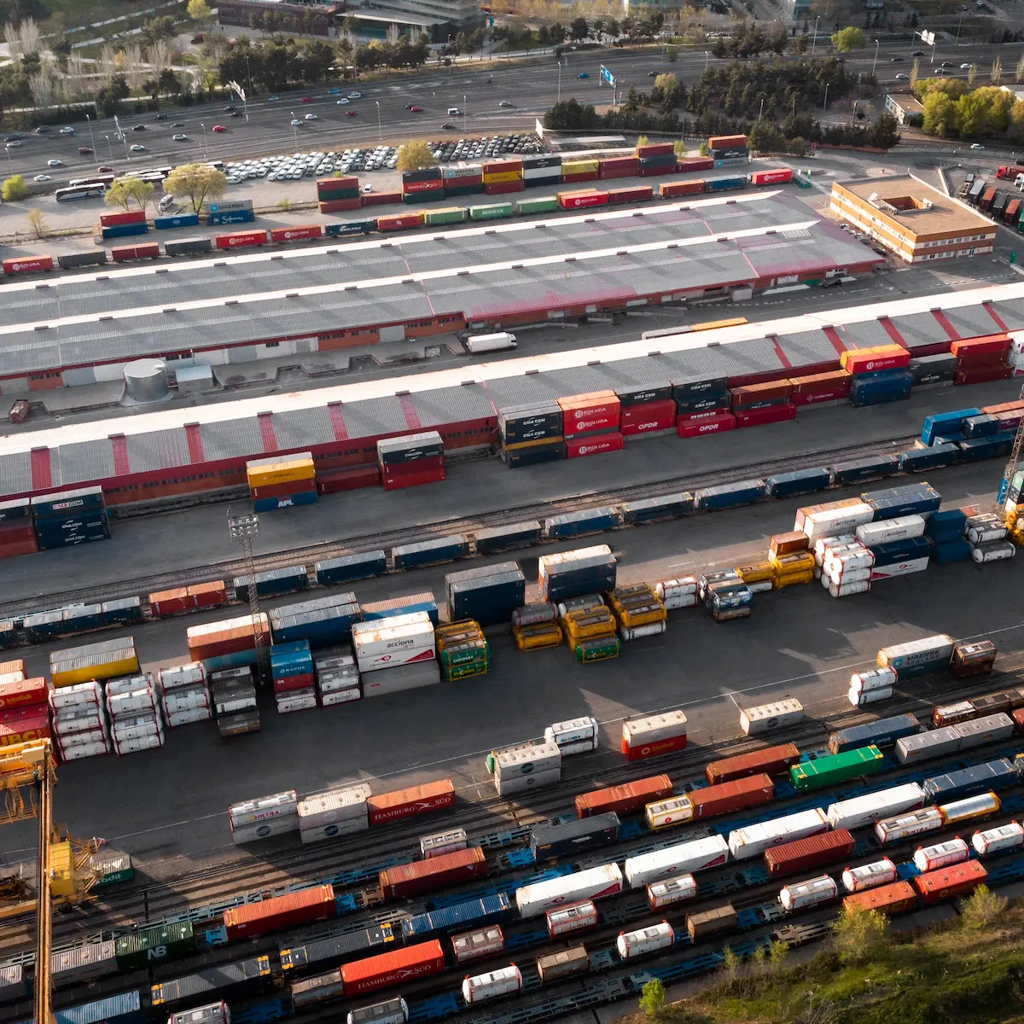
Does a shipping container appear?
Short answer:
Yes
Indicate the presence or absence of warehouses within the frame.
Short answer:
Yes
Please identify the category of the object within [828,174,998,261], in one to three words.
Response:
building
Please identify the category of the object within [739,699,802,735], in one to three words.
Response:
shipping container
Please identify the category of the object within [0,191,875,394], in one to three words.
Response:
warehouse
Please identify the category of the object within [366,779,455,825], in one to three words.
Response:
shipping container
